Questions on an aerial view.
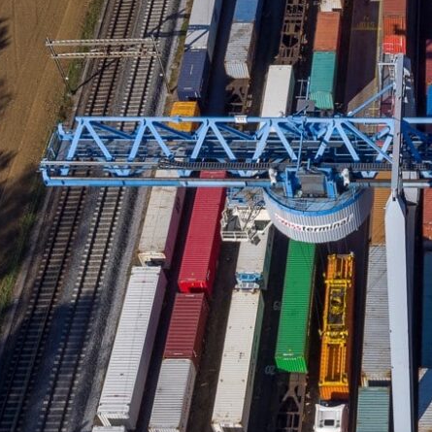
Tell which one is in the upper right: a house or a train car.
train car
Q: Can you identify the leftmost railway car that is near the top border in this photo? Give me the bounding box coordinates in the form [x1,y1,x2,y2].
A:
[196,0,229,116]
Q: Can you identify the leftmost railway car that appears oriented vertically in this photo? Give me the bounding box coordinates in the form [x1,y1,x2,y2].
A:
[104,279,169,432]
